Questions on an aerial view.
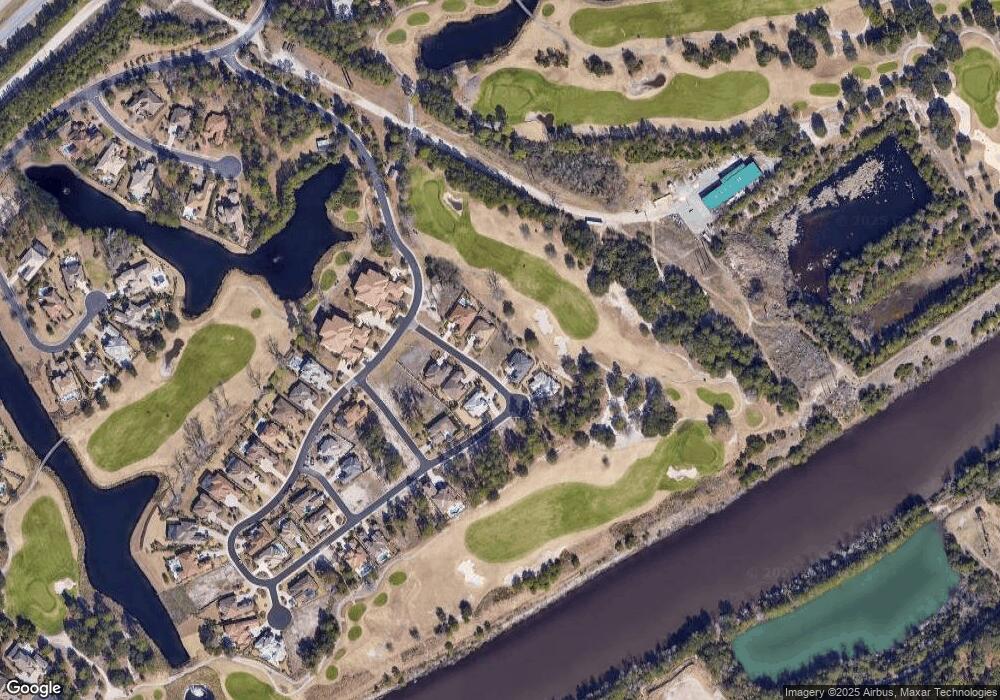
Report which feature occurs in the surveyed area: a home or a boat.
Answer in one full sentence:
The one in the frame is a home.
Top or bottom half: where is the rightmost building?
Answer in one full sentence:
It is in the top half that the rightmost building appears.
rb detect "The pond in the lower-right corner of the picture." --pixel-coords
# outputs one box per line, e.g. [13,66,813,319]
[732,519,959,682]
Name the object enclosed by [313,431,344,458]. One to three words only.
house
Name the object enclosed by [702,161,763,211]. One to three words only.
building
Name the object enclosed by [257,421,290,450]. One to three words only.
house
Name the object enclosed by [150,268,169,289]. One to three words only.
swimming pool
